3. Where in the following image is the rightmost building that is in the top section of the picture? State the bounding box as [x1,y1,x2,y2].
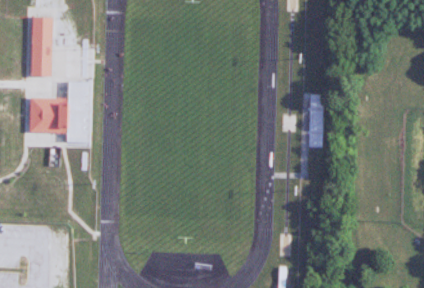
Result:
[66,82,89,144]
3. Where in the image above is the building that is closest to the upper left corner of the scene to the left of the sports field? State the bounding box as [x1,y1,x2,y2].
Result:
[30,17,52,76]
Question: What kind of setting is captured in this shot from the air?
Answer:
sports ground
